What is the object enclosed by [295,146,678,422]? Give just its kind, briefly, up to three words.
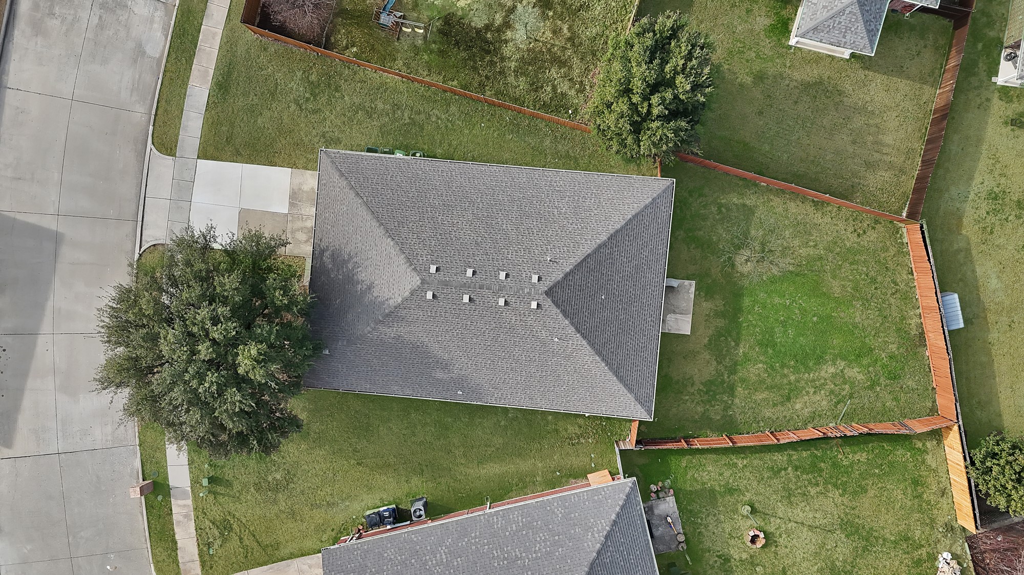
house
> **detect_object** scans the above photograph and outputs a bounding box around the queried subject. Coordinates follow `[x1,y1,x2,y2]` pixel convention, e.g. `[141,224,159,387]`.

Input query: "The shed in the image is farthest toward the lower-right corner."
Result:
[940,293,962,330]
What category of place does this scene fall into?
residential area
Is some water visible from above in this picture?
No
